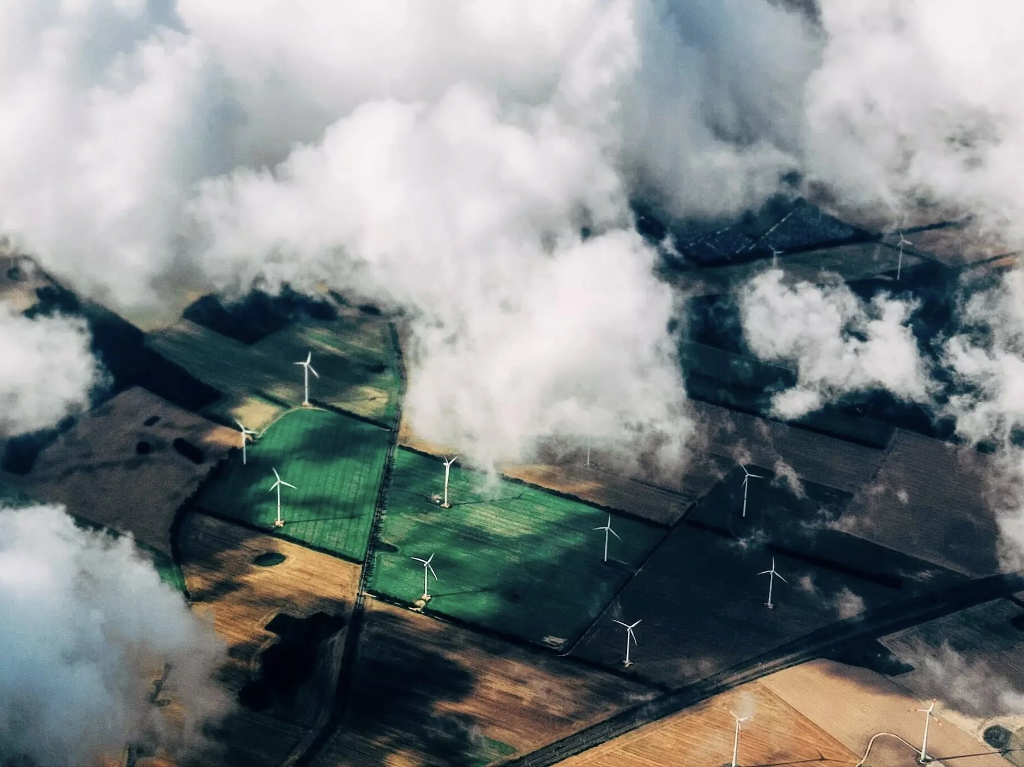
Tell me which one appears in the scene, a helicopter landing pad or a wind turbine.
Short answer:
wind turbine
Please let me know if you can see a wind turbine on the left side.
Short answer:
Yes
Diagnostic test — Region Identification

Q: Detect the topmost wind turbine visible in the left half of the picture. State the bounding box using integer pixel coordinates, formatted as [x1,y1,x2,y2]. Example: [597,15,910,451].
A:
[295,351,317,402]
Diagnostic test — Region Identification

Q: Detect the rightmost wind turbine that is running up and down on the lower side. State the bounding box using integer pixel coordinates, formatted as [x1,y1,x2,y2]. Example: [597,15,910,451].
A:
[914,695,944,762]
